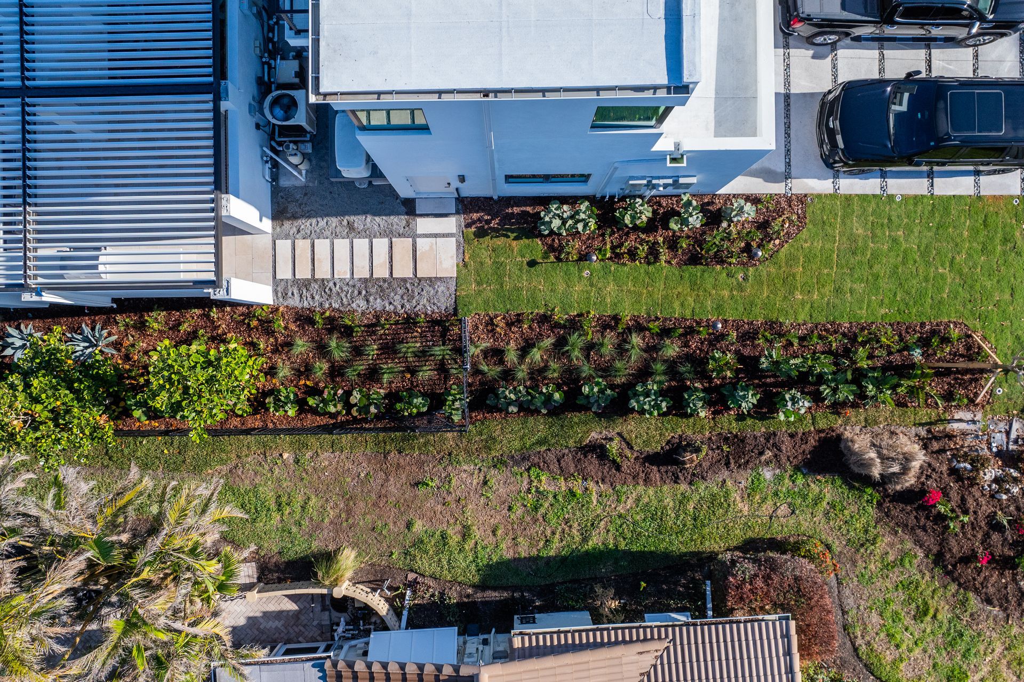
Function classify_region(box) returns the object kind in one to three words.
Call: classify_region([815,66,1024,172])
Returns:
car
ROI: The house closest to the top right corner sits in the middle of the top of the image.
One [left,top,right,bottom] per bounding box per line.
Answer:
[307,0,774,201]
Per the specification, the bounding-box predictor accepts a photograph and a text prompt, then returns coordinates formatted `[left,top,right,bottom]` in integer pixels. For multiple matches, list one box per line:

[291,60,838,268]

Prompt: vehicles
[775,0,1024,41]
[815,66,1024,172]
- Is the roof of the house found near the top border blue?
No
